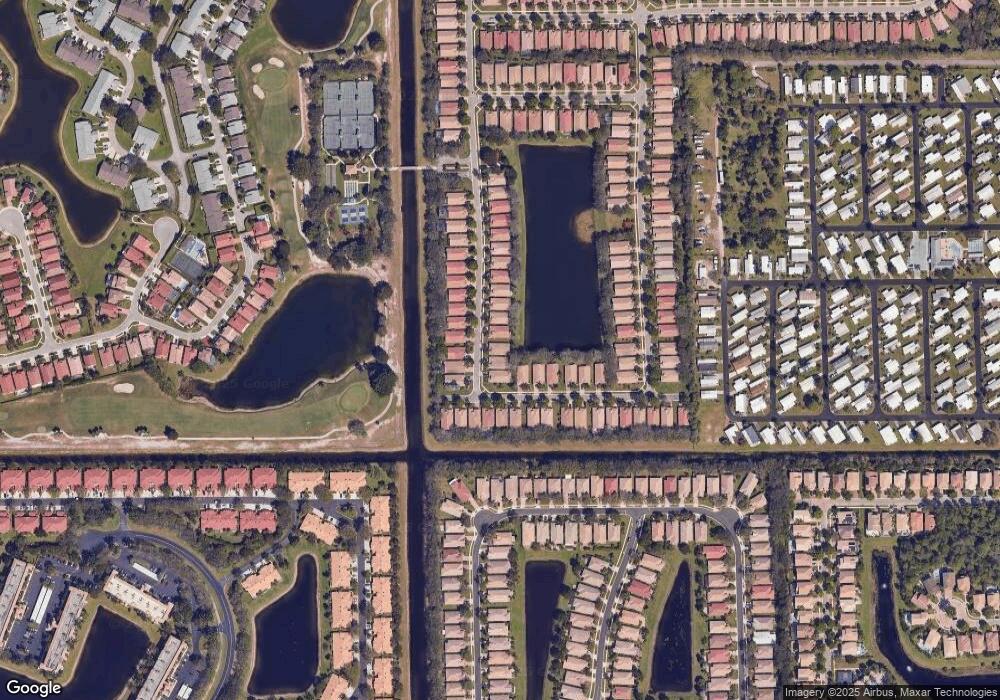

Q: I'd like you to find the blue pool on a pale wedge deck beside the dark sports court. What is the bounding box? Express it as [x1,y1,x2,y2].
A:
[180,234,208,265]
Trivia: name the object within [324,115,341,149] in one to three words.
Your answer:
tennis court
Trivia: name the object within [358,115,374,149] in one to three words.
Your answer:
tennis court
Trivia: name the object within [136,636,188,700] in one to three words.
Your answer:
building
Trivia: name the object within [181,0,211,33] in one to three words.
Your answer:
house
